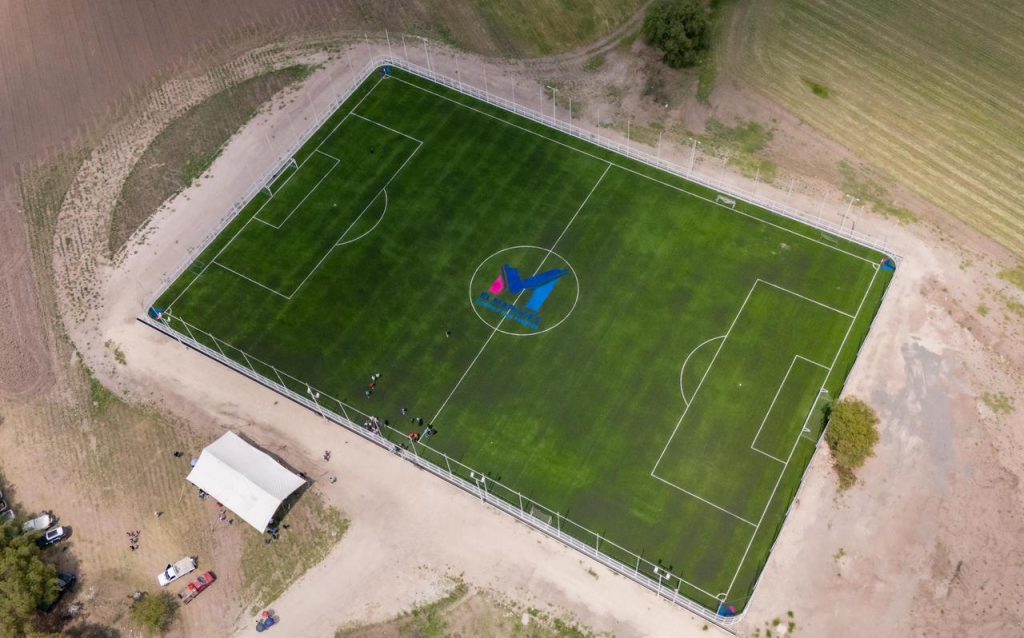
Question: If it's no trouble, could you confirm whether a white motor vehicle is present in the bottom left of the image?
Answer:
Yes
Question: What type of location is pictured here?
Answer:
sports ground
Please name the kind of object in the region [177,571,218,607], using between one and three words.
truck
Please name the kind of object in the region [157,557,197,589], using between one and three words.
truck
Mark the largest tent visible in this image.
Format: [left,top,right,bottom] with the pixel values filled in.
[181,429,325,553]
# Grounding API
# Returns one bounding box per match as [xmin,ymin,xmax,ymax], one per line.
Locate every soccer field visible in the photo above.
[151,66,895,615]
